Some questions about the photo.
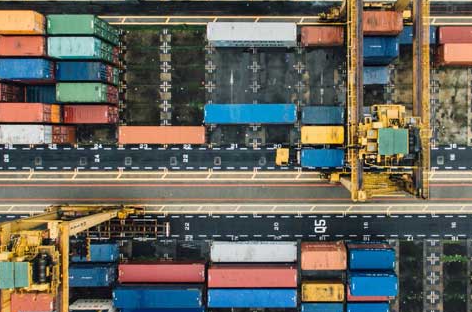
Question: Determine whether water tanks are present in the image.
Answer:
No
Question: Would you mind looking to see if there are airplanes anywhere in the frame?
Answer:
No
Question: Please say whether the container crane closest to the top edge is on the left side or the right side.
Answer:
right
